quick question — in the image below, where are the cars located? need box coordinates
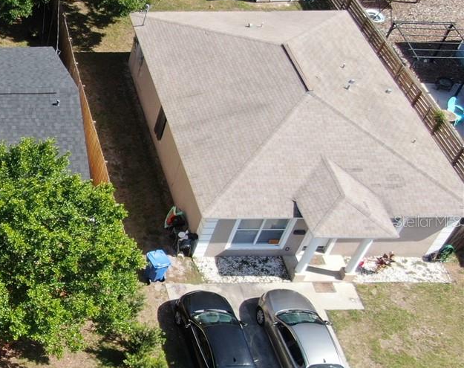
[264,289,350,368]
[177,291,259,368]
